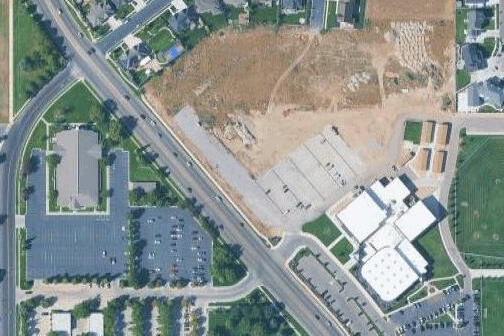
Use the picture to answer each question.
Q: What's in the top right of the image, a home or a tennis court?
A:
home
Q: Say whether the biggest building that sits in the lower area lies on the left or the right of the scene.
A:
right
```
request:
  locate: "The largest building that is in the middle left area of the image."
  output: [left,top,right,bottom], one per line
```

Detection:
[53,127,101,211]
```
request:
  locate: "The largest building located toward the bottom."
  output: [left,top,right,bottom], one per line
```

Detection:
[337,177,436,302]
